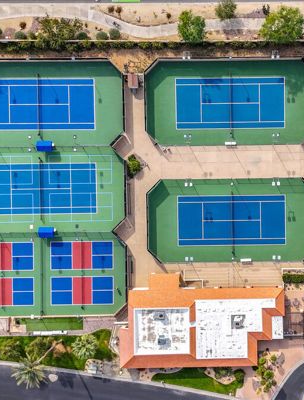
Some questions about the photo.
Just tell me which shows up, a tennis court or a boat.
tennis court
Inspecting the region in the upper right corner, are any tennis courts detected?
Yes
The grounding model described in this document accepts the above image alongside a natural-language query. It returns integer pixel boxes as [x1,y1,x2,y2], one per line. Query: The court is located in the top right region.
[147,61,304,147]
